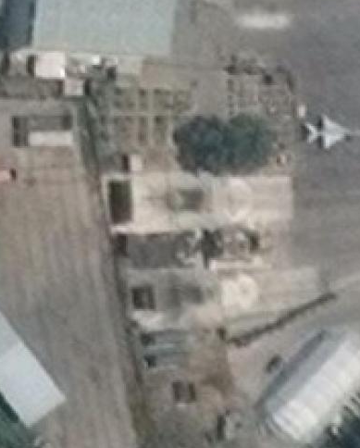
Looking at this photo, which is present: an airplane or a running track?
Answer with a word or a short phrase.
airplane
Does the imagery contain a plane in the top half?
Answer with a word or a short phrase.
Yes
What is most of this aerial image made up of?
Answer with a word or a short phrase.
paved ground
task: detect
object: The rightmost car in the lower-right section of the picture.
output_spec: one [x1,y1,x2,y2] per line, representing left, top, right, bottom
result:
[267,355,284,371]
